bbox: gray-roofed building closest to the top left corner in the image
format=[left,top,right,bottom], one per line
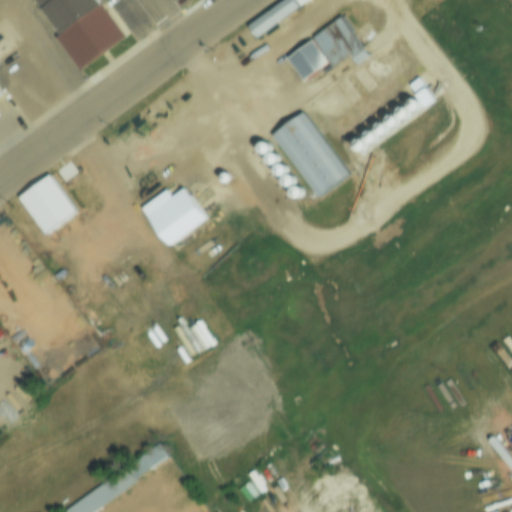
[36,0,103,36]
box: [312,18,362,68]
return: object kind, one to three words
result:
barn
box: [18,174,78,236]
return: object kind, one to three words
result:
building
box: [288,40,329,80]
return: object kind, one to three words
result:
building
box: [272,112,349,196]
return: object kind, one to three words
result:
shed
